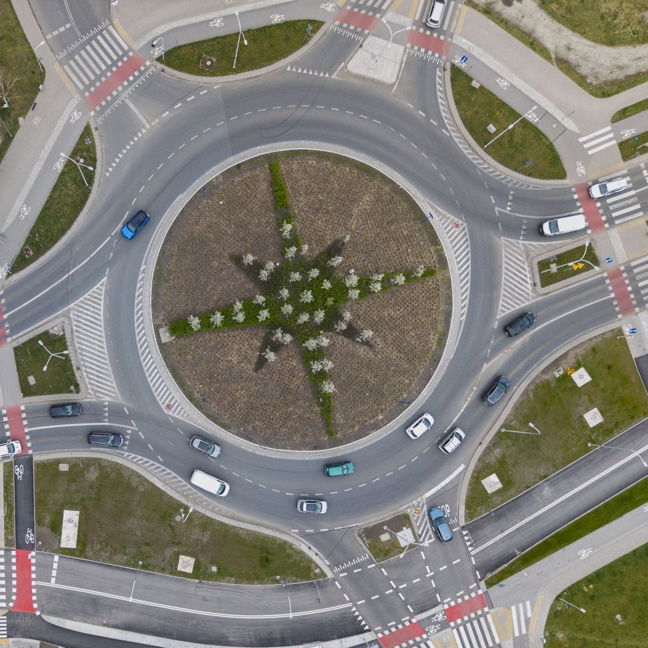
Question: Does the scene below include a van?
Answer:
Yes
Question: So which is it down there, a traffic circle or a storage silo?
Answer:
traffic circle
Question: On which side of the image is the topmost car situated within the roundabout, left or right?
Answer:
left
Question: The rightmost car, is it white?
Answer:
Yes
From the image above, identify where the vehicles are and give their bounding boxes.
[324,459,354,476]
[427,506,453,543]
[122,211,149,241]
[188,434,222,457]
[403,411,433,441]
[436,425,465,456]
[48,401,83,417]
[0,440,23,457]
[190,467,231,498]
[539,215,588,237]
[479,373,511,407]
[295,499,328,515]
[87,431,123,449]
[501,311,536,337]
[587,178,627,200]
